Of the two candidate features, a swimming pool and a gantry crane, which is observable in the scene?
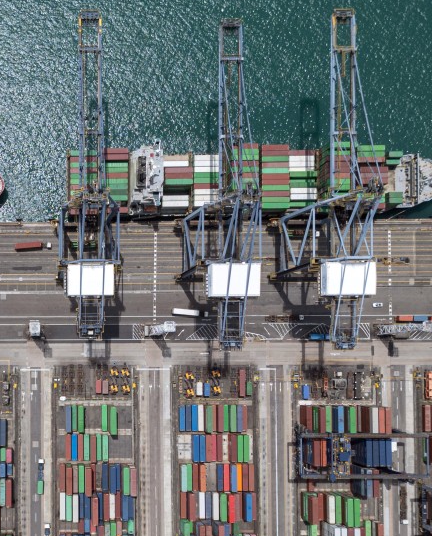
gantry crane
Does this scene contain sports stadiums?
No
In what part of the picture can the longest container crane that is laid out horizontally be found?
bottom right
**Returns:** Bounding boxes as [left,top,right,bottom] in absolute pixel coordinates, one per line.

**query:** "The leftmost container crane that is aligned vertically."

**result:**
[49,9,121,347]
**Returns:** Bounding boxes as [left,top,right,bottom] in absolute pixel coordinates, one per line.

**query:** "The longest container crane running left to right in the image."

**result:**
[297,423,428,480]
